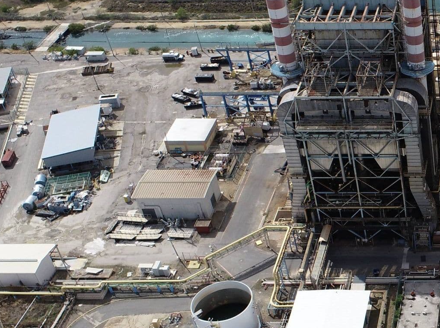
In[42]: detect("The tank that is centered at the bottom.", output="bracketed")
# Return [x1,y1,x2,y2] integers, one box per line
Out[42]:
[185,279,261,328]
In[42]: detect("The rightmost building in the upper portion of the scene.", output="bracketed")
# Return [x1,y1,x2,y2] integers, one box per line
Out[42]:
[279,0,440,237]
